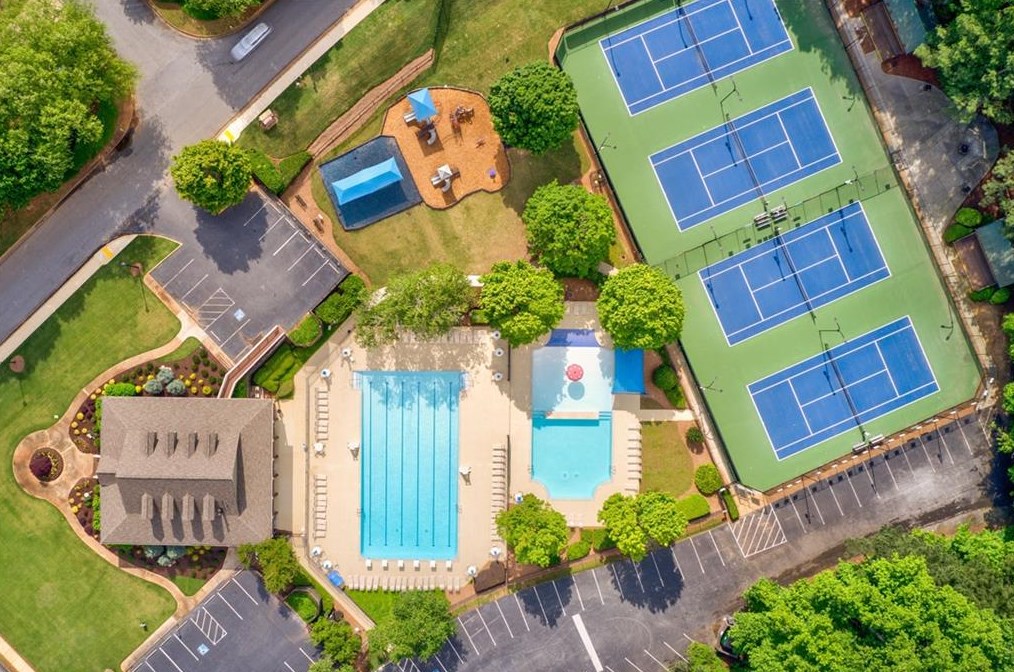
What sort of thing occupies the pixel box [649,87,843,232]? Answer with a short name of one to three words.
tennis court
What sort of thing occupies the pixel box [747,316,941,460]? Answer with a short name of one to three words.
tennis court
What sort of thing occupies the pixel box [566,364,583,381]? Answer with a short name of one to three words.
fountain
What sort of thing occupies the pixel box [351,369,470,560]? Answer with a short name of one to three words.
swimming pool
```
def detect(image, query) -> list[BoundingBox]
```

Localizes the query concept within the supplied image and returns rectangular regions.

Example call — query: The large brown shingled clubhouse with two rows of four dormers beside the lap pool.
[90,397,281,544]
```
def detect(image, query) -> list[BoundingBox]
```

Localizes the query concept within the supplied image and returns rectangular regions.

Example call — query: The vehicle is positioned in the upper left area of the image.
[231,24,269,57]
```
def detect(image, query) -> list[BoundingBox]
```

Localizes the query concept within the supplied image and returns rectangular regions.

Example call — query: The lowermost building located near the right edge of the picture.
[946,219,1014,292]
